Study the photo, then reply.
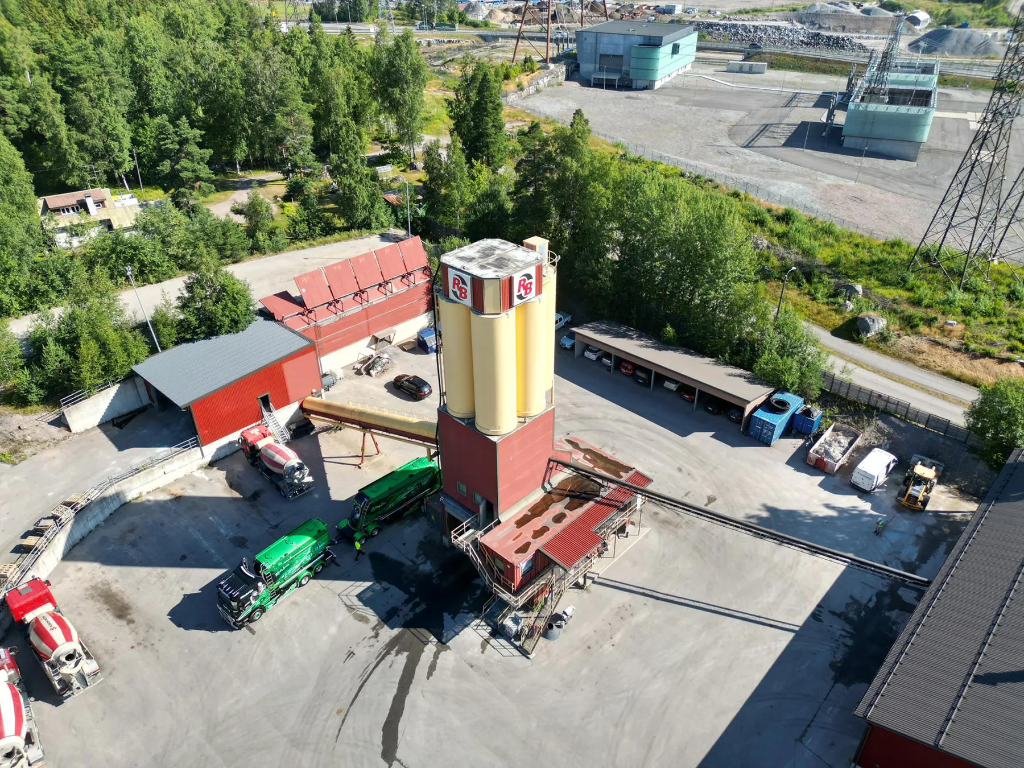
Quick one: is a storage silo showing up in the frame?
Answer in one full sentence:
Yes, there's a storage silo here.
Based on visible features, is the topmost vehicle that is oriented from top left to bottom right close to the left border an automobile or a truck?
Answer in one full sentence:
It looks like the topmost vehicle that is oriented from top left to bottom right close to the left border is a truck.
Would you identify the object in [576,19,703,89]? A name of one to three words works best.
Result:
building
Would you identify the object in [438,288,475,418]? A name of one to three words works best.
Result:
silo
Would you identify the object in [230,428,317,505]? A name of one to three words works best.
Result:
truck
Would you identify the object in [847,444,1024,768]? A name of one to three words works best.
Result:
building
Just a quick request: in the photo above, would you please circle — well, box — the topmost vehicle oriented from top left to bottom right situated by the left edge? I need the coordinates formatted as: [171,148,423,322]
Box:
[1,580,106,706]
